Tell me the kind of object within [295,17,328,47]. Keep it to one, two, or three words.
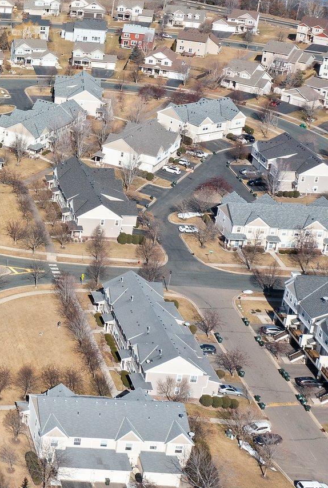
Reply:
house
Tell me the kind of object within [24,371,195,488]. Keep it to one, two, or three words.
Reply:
house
